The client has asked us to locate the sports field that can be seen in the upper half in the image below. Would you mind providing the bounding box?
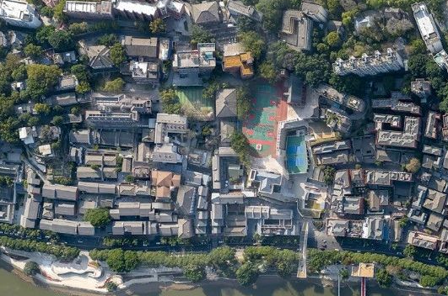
[176,82,215,121]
